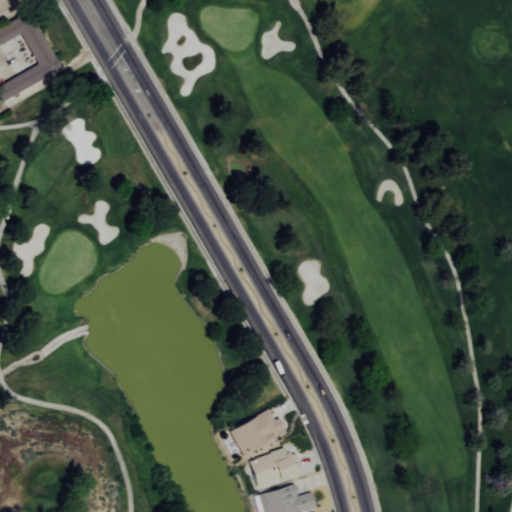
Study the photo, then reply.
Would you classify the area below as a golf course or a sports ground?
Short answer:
golf course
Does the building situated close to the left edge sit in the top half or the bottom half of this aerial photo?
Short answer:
top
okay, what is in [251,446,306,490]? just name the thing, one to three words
house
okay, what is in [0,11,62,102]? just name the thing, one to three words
building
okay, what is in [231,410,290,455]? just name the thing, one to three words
house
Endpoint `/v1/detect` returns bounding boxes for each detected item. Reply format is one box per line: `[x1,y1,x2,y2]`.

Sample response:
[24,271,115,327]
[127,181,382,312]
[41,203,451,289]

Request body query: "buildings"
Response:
[258,486,317,512]
[0,11,62,102]
[251,446,306,490]
[231,410,290,455]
